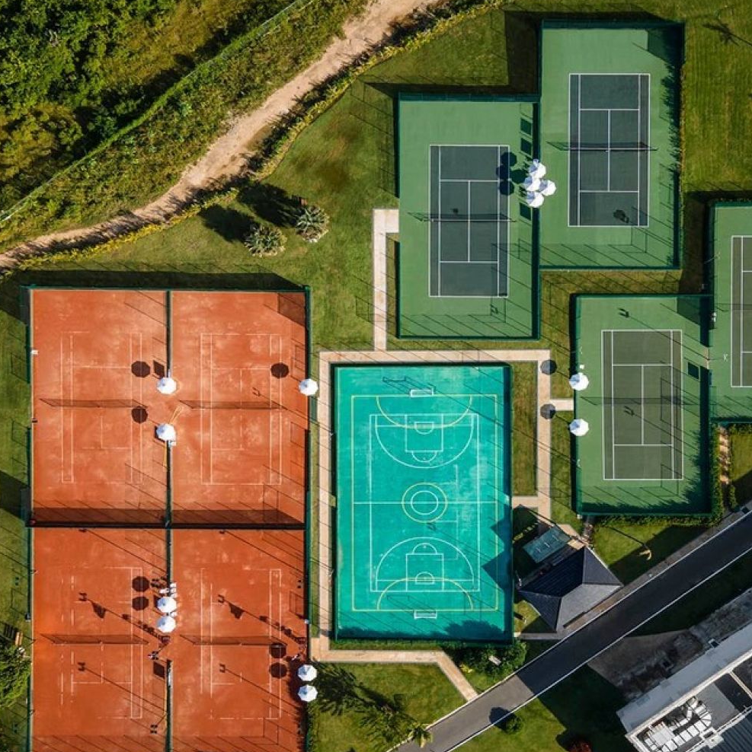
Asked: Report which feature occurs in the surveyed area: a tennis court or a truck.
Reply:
tennis court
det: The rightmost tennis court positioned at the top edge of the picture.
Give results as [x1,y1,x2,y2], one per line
[540,29,678,268]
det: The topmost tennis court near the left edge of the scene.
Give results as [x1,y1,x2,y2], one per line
[32,290,169,526]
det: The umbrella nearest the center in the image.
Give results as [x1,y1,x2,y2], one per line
[299,378,318,396]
